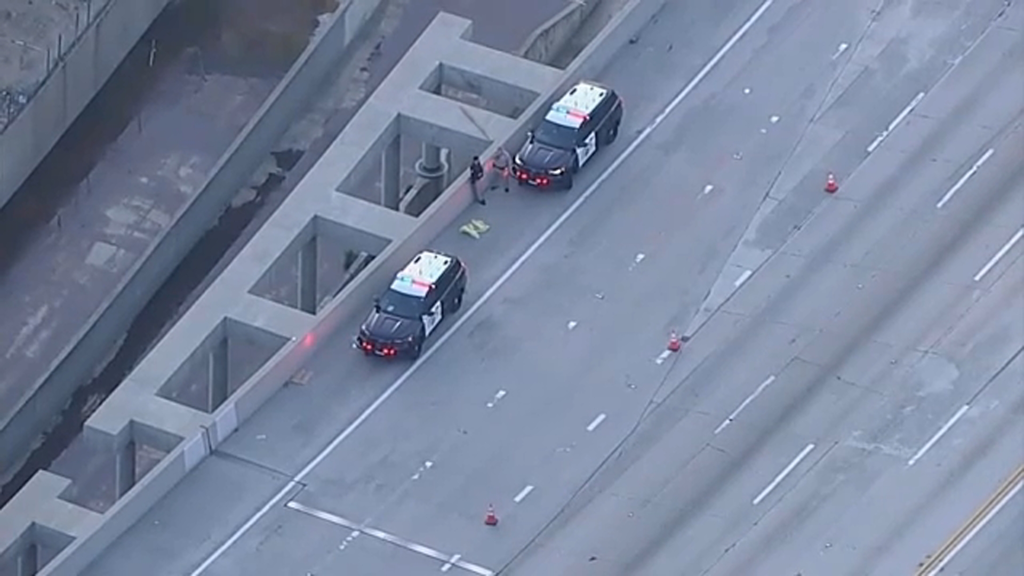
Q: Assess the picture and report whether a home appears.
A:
No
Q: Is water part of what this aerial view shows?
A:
No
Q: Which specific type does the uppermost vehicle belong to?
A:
car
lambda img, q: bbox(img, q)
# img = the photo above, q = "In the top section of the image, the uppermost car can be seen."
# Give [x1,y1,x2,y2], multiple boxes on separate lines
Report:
[515,80,621,191]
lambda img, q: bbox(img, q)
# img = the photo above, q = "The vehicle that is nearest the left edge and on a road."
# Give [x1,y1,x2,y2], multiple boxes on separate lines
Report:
[358,247,464,362]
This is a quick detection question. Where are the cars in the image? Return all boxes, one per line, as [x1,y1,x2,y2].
[358,247,464,362]
[515,80,621,191]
